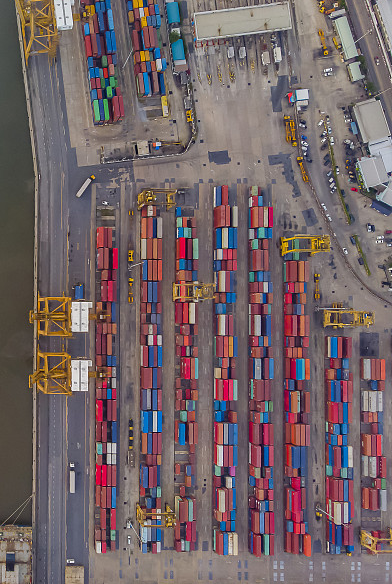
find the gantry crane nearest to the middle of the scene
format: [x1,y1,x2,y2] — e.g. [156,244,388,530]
[166,283,215,300]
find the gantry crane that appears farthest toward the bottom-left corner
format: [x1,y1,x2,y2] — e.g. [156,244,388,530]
[130,495,177,522]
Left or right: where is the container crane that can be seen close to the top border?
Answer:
left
